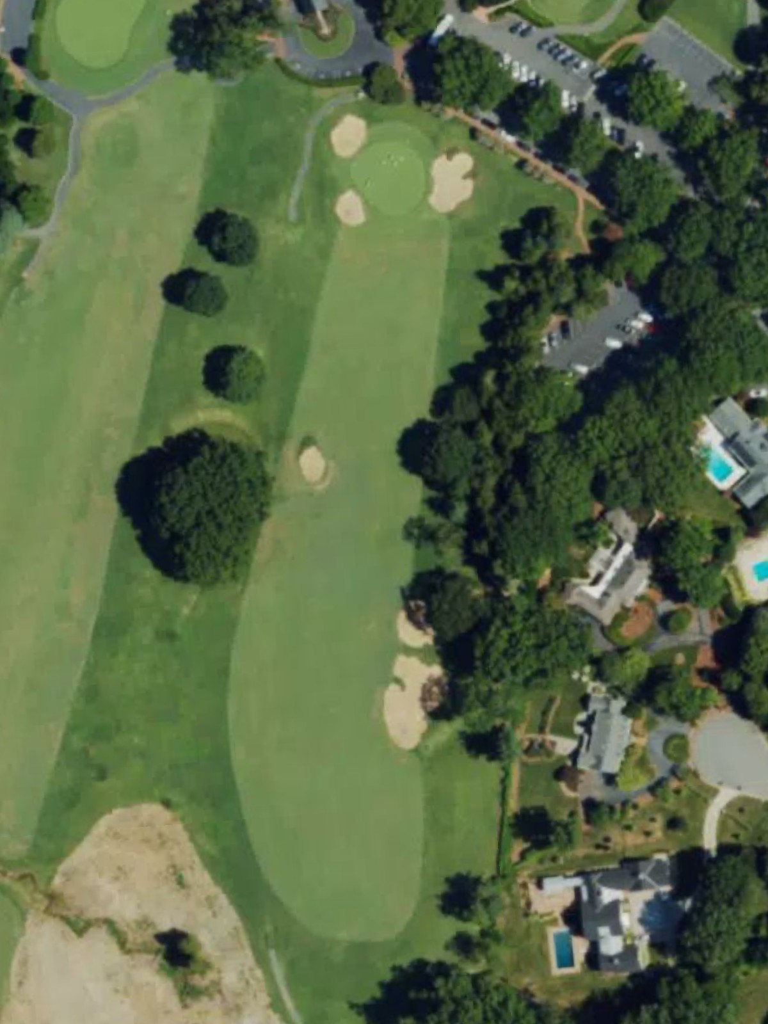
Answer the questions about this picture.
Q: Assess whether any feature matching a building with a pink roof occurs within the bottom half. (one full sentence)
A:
No, no building with a pink roof is visible within the bottom half.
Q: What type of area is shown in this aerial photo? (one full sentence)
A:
The area seen from above is a golf course.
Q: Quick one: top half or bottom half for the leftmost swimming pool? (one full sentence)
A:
The bottom half of the photo is where the leftmost swimming pool is.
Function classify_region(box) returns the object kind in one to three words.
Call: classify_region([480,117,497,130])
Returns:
vehicle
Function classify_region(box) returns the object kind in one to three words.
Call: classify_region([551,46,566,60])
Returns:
car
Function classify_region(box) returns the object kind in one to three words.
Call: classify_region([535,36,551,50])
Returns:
car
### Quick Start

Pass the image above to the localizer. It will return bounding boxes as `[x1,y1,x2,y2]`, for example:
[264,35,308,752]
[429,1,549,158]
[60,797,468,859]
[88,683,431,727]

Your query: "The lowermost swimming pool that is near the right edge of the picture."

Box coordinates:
[732,531,768,604]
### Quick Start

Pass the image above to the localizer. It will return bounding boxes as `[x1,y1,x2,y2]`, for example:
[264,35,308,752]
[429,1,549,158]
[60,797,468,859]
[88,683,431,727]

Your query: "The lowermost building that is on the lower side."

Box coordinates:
[543,854,674,977]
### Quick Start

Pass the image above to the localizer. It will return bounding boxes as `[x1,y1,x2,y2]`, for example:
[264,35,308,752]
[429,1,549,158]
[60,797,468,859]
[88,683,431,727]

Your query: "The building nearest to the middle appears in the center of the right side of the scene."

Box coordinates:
[566,506,650,624]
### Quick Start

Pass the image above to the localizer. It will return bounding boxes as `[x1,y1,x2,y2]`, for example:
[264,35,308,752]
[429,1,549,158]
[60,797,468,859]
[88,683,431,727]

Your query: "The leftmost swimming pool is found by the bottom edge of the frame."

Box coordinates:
[547,927,589,976]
